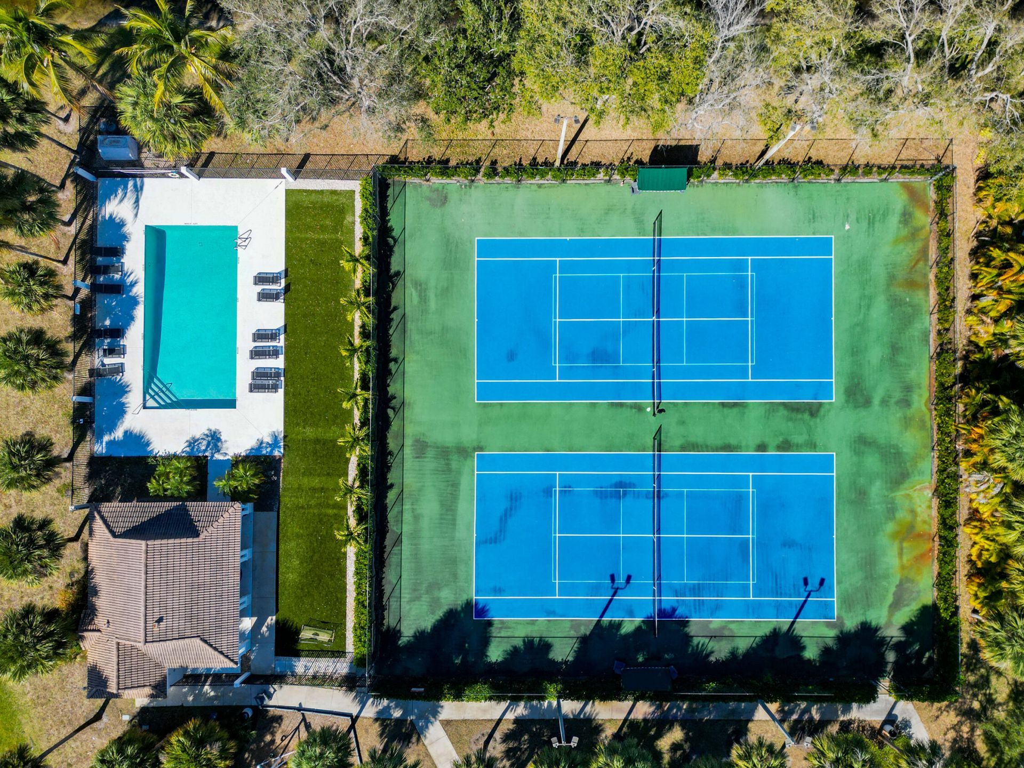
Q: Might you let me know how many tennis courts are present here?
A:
two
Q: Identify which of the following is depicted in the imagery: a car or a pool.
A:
pool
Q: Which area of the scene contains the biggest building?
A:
bottom left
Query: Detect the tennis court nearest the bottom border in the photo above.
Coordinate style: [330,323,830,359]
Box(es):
[473,452,839,621]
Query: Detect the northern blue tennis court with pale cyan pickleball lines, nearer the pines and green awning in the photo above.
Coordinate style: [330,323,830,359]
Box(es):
[475,236,836,402]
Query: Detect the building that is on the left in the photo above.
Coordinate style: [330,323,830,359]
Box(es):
[73,501,253,701]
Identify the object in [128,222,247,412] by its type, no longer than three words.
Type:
swimming pool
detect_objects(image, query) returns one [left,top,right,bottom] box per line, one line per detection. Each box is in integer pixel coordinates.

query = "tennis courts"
[475,236,836,402]
[473,452,839,621]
